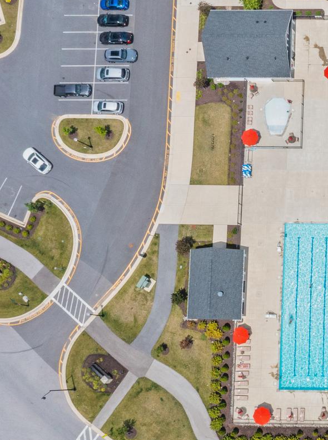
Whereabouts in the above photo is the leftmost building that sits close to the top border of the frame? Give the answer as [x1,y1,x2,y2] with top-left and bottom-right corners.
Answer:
[202,10,296,81]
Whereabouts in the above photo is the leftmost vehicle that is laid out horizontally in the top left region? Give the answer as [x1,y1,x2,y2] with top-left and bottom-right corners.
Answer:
[52,82,95,98]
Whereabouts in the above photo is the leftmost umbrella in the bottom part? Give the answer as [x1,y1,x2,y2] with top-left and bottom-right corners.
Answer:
[233,327,250,343]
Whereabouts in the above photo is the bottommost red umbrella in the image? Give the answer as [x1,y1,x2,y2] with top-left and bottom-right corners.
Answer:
[254,405,271,423]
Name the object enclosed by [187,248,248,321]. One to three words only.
building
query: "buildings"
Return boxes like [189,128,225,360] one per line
[202,10,296,81]
[187,248,248,321]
